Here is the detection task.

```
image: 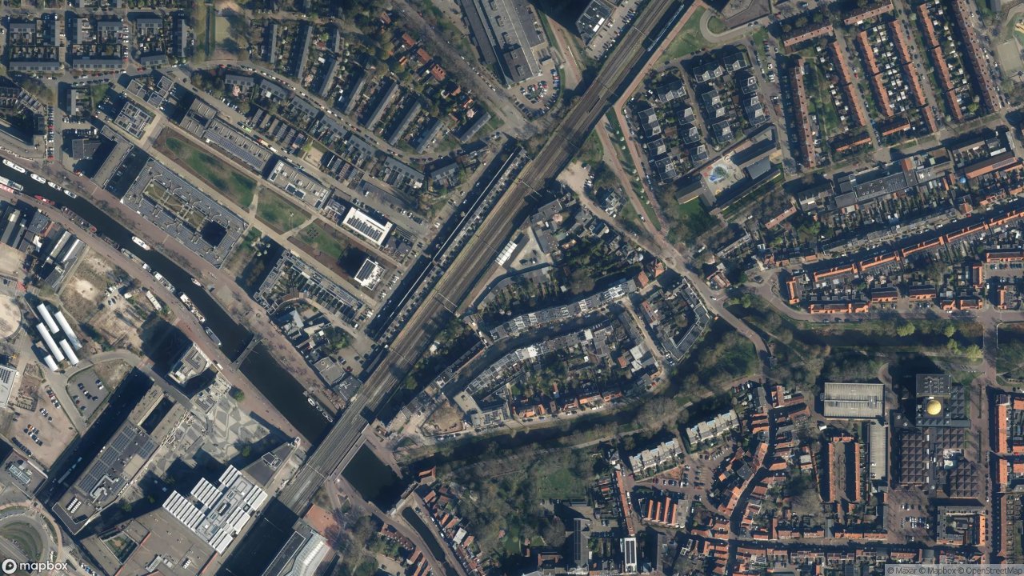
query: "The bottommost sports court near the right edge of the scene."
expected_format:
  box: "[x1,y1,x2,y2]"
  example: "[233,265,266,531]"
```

[997,38,1024,76]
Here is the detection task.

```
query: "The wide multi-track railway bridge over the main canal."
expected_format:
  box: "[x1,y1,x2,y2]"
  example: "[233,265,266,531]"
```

[280,428,370,519]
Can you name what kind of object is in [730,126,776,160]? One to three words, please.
building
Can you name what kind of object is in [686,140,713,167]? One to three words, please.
house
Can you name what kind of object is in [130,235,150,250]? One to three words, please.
boat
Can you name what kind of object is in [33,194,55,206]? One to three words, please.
vessel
